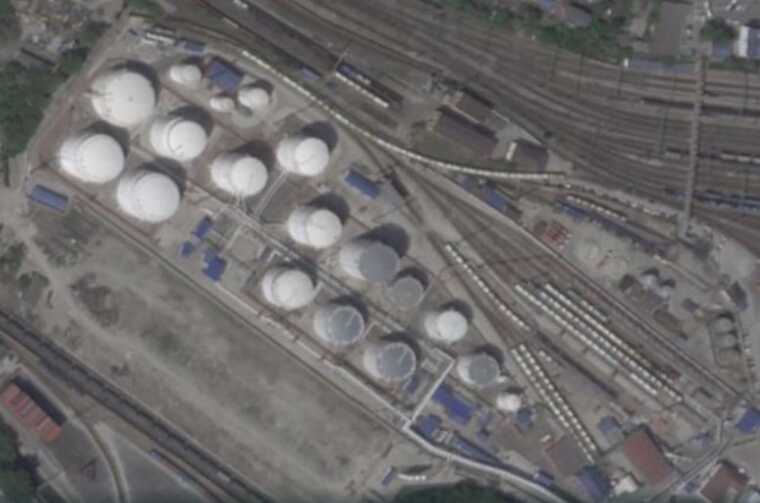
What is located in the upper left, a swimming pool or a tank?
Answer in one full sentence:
There is a tank in the upper left.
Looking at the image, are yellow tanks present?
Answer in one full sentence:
No, the photo shows no yellow tank.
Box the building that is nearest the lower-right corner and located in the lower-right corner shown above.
[695,460,753,503]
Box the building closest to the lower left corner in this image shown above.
[0,379,63,443]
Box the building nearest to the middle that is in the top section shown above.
[340,169,381,198]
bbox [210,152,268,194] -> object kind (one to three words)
storage tank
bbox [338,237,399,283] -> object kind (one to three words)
storage tank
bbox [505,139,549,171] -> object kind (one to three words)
shed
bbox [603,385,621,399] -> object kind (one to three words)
rail car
